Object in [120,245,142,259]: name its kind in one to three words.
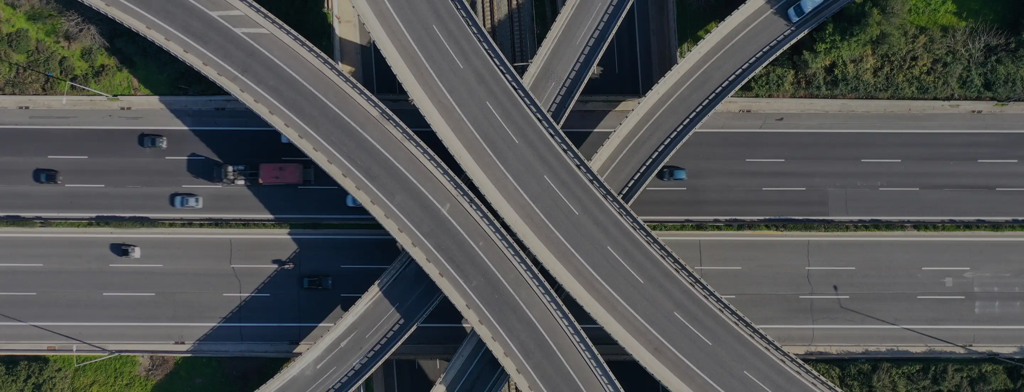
car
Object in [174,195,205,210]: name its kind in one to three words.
car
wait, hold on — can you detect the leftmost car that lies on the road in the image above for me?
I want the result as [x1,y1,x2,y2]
[39,170,66,184]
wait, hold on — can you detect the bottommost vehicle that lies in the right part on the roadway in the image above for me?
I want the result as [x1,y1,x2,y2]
[660,167,688,182]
